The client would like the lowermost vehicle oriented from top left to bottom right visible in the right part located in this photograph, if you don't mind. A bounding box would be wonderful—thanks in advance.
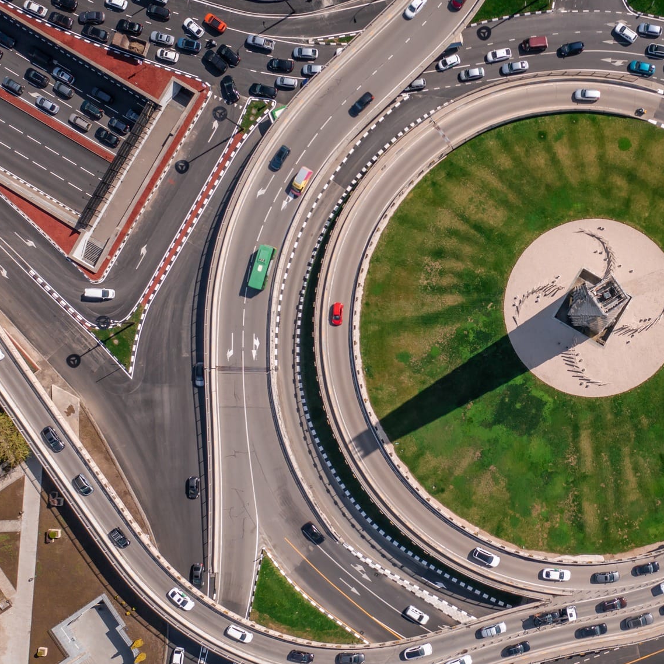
[405,606,428,624]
